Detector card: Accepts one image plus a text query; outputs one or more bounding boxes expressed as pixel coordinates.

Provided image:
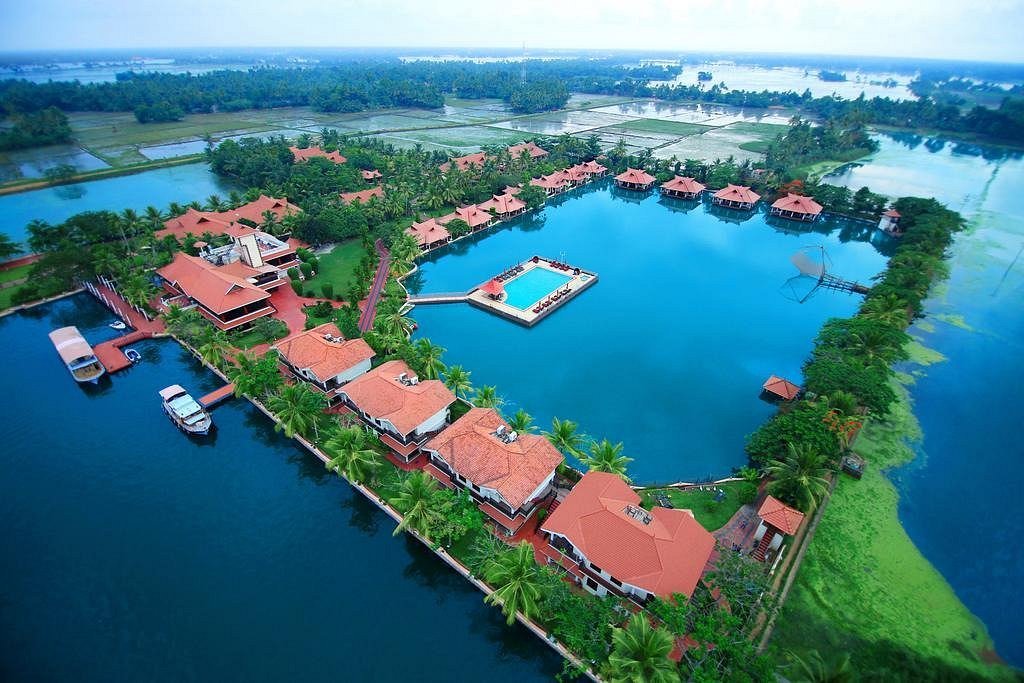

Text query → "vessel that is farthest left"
[46,326,104,384]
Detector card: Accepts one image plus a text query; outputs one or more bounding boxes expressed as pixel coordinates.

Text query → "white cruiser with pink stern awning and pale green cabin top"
[156,384,213,436]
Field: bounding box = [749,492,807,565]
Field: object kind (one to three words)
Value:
building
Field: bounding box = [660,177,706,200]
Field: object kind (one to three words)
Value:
house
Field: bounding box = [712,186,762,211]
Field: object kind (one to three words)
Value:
house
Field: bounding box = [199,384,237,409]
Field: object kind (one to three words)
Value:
pier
